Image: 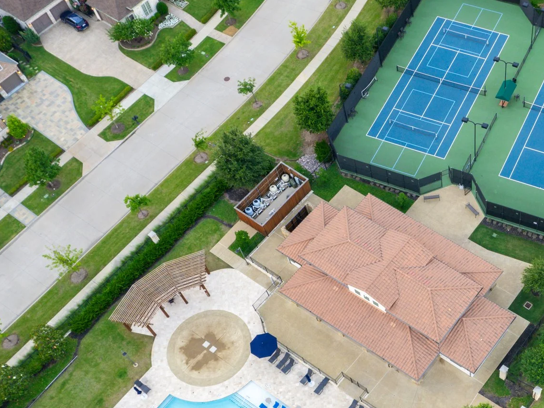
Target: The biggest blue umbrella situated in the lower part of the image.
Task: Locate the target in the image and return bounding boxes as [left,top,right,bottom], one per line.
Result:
[250,333,279,360]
